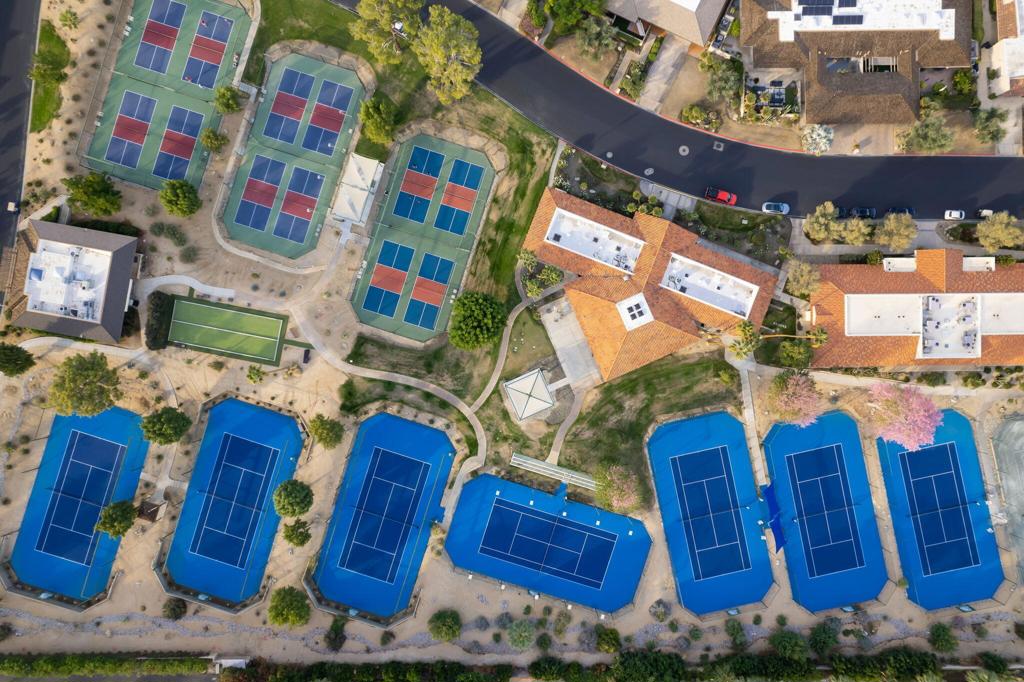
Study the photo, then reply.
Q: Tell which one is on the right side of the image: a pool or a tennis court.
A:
tennis court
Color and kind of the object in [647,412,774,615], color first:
blue tennis court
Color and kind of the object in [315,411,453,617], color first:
blue tennis court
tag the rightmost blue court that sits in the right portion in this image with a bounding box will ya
[876,408,1003,611]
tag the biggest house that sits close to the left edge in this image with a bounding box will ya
[9,219,141,341]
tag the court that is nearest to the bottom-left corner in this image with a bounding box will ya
[11,400,149,600]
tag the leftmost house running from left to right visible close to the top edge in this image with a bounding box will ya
[599,0,730,54]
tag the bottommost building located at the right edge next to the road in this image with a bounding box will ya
[796,249,1024,367]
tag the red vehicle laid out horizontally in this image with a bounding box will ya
[706,186,737,204]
